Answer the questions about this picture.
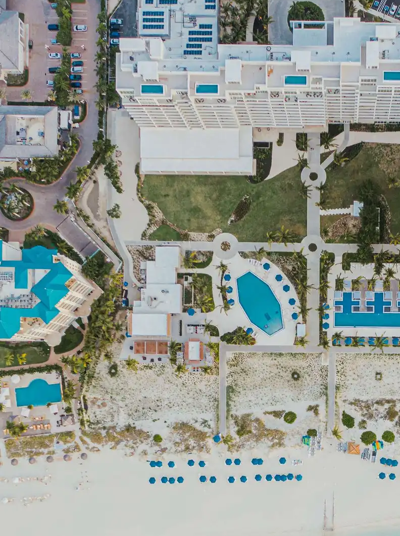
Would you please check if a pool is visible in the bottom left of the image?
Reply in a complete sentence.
Yes, a pool shows up in the bottom left of the image.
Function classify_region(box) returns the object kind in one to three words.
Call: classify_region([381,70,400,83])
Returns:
swimming pool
